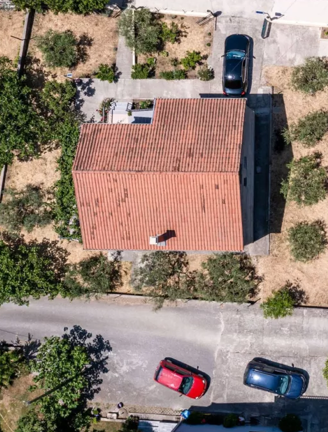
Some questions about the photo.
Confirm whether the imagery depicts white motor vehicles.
No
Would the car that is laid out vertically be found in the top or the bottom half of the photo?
top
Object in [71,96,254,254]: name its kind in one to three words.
house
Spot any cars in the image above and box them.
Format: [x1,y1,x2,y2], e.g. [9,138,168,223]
[222,34,253,97]
[244,357,308,397]
[153,358,209,396]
